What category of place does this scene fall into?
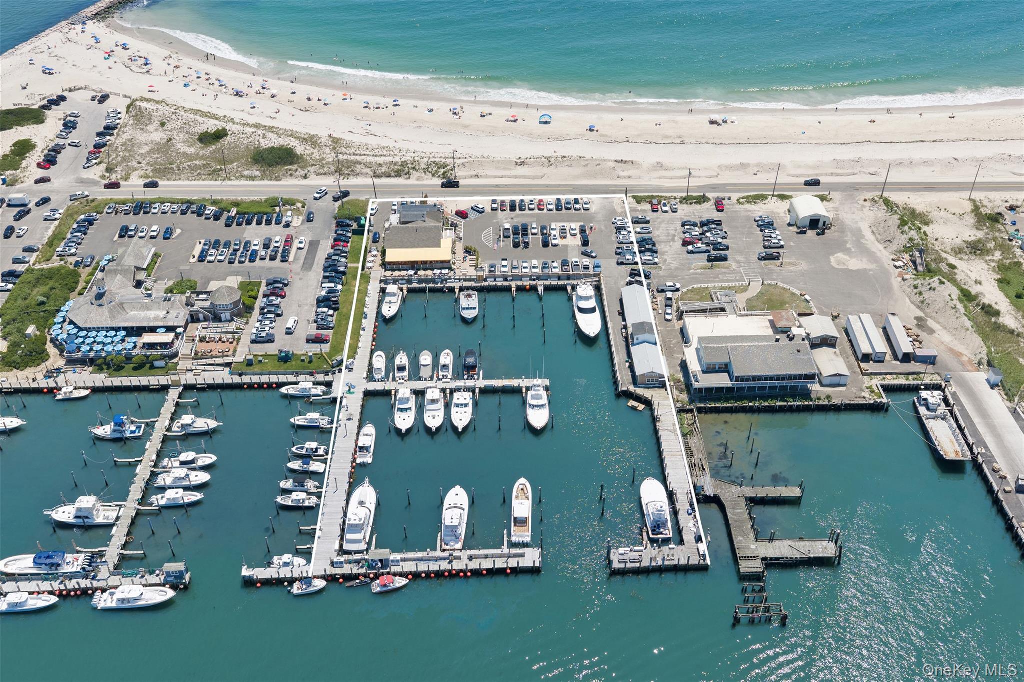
port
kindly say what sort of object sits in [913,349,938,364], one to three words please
shed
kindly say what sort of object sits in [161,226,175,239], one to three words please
vehicle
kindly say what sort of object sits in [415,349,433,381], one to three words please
boat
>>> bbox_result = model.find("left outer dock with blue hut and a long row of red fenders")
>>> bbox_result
[0,571,188,597]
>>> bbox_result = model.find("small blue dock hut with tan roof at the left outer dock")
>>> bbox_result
[163,564,186,582]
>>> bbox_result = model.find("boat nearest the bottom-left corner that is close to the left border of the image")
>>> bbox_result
[0,594,59,616]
